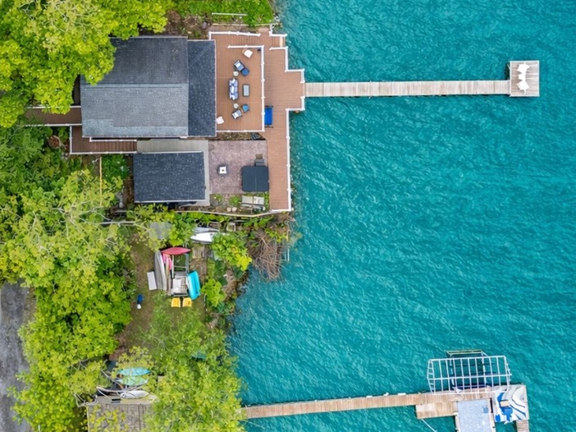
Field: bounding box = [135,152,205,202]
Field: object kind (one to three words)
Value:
shed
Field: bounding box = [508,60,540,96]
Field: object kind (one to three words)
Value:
pier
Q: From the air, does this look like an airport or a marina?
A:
marina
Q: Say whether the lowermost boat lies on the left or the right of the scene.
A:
right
